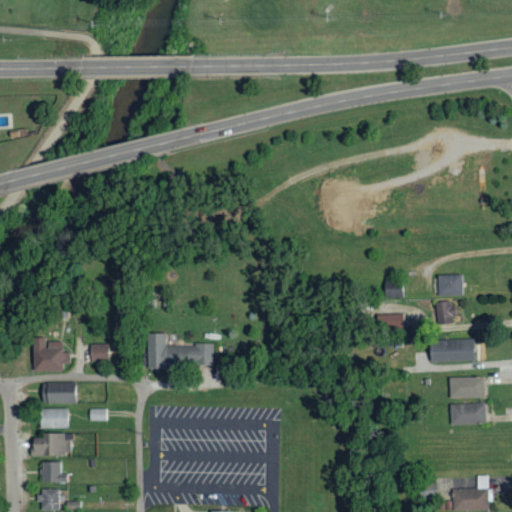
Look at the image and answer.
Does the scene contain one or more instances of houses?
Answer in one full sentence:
Yes, a house appears in the view.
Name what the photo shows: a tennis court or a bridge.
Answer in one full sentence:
I can see a bridge in this picture.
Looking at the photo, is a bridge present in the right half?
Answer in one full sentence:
No, there is no bridge in the right half.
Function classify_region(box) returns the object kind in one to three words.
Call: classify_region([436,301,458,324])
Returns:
house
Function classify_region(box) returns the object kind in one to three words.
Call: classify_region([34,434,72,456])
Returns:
house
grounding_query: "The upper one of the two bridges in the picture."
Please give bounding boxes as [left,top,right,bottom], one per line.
[81,56,194,77]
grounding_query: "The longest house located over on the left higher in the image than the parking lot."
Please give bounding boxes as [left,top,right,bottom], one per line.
[148,333,214,369]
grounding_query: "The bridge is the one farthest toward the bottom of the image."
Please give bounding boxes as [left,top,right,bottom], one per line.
[3,132,172,192]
